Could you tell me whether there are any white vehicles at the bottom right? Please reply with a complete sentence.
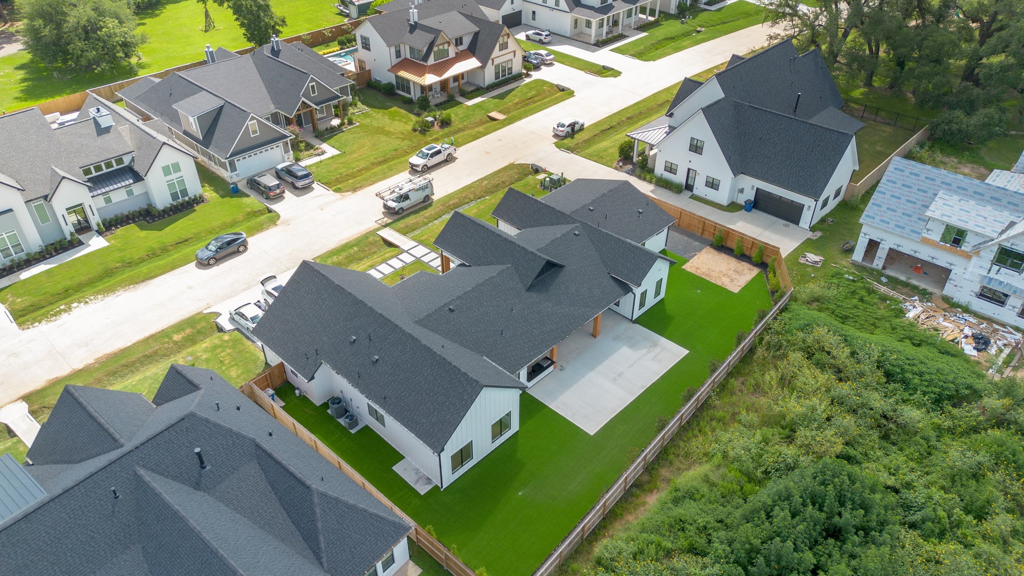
No, there's no white vehicle to be seen at the bottom right.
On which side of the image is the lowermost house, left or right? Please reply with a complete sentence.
It is on the left.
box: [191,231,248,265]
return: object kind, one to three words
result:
car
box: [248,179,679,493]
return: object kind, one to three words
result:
house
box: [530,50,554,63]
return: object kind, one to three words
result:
vehicle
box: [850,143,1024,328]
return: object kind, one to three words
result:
house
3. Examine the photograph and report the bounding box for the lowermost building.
[0,362,417,576]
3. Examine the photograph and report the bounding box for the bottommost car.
[227,299,266,333]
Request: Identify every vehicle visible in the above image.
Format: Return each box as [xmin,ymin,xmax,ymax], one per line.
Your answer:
[530,50,554,63]
[407,143,455,172]
[259,270,288,304]
[525,30,552,43]
[274,163,314,188]
[245,172,287,198]
[191,231,248,265]
[227,299,266,333]
[377,170,434,214]
[553,119,584,136]
[523,51,542,68]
